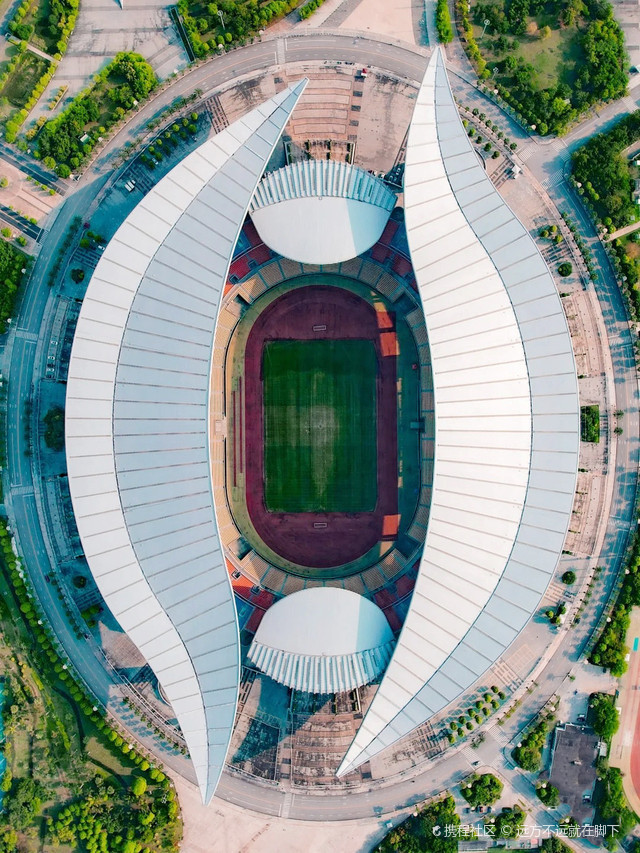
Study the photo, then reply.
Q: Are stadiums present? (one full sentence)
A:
Yes, the image includes a stadium.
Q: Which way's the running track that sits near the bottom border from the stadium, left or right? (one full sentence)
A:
Relative to the stadium, the running track that sits near the bottom border is on the right.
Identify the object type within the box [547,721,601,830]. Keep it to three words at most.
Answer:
building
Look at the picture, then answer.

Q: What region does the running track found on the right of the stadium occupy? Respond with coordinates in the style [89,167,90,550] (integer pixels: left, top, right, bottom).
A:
[609,603,640,828]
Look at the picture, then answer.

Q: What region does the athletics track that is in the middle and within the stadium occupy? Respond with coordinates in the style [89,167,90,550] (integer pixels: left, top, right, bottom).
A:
[245,285,398,566]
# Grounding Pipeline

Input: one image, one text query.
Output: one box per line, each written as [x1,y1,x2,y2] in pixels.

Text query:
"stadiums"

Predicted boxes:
[65,47,580,806]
